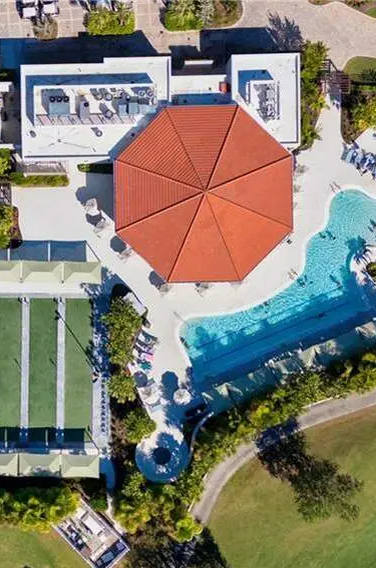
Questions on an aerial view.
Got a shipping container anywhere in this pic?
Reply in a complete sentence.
No, no shipping container is visible in the view.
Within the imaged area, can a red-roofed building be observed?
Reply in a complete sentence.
Yes, the image includes a red-roofed building.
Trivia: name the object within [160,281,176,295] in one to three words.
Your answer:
umbrella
